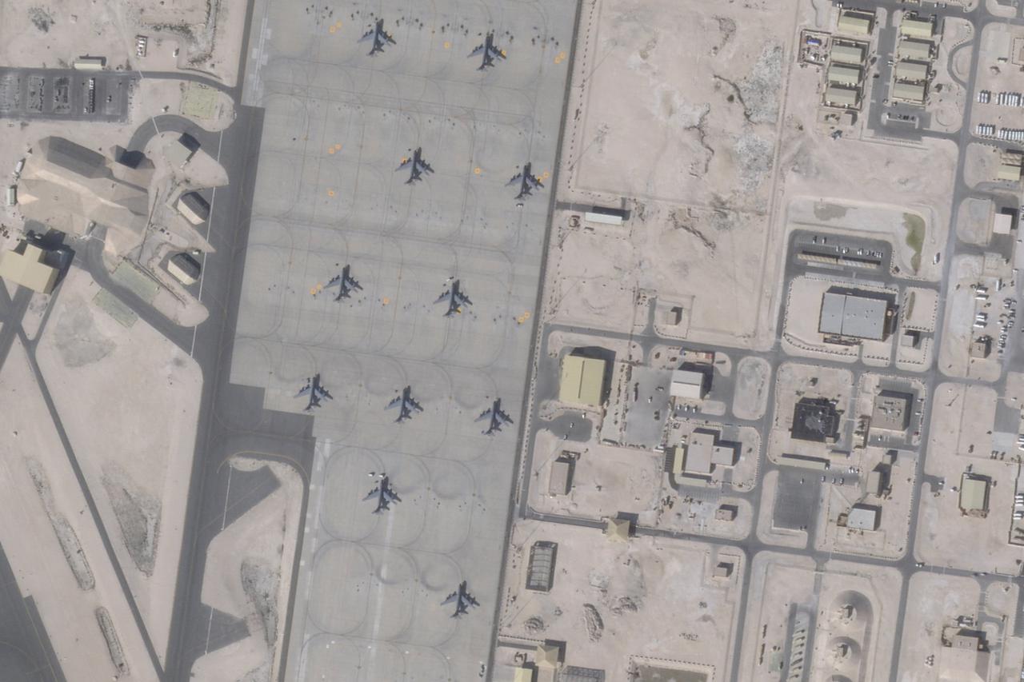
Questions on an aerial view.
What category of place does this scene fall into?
airport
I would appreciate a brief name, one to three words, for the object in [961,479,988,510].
house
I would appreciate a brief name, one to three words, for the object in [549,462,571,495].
building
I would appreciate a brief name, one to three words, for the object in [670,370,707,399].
building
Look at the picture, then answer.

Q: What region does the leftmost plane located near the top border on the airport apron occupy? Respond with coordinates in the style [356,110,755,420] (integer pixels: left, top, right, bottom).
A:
[359,21,391,54]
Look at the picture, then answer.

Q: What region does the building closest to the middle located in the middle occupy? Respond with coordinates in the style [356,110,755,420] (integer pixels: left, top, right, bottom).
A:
[557,354,610,407]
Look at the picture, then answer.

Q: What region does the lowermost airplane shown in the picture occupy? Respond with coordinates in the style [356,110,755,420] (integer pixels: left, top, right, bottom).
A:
[441,585,474,619]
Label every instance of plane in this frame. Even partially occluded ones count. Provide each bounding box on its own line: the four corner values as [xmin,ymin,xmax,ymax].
[385,389,418,423]
[363,480,396,514]
[325,268,357,302]
[441,585,474,619]
[359,21,391,54]
[434,283,466,316]
[474,402,508,435]
[395,150,428,183]
[468,38,501,71]
[505,166,538,199]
